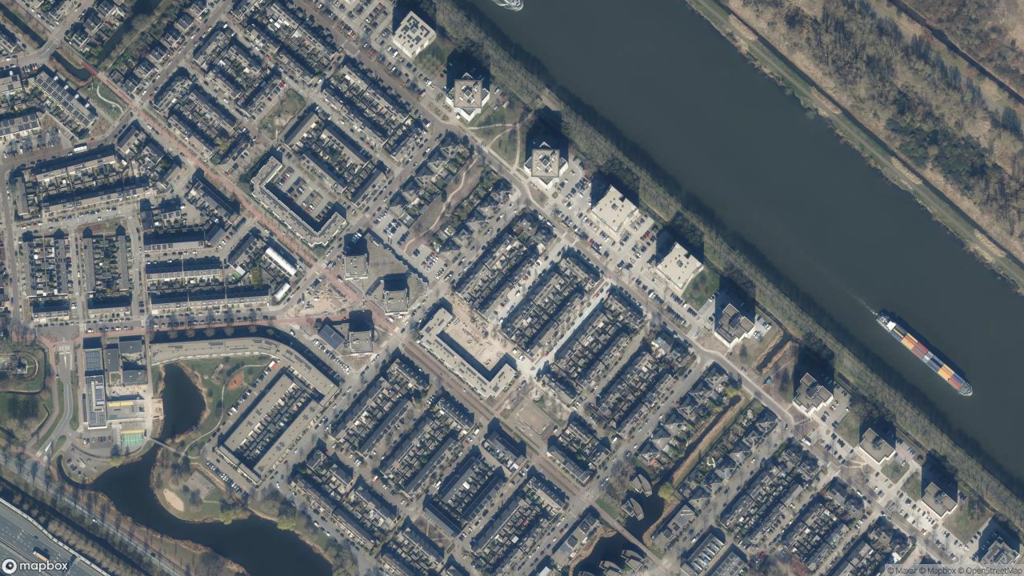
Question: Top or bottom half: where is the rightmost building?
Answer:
bottom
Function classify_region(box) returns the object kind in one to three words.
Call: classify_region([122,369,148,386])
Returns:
building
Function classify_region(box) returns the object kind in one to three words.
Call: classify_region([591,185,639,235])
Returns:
building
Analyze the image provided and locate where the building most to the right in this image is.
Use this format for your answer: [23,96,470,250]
[980,537,1021,576]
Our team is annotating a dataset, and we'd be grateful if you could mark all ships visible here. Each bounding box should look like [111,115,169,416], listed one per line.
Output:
[874,315,973,394]
[502,0,523,10]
